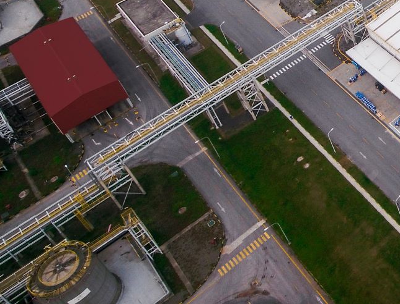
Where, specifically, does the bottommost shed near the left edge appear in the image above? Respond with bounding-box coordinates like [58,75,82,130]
[12,14,141,135]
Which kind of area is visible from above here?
industrial area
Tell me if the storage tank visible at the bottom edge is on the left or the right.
left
